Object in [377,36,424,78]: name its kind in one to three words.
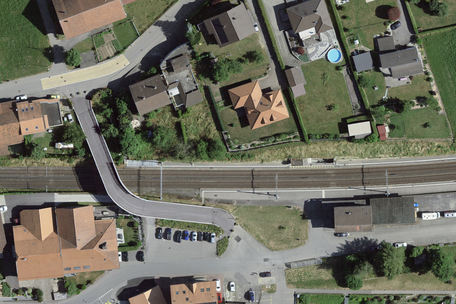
house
